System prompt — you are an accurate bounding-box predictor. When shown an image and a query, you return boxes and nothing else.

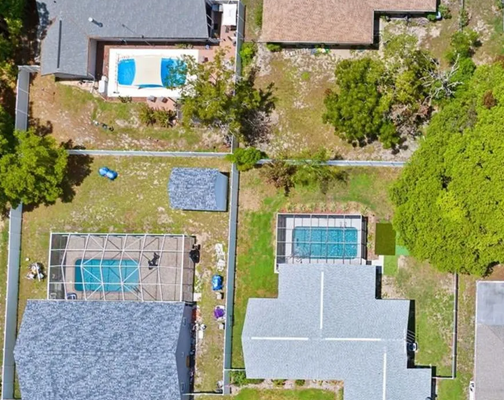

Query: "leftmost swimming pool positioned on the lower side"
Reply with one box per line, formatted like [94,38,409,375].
[67,237,195,303]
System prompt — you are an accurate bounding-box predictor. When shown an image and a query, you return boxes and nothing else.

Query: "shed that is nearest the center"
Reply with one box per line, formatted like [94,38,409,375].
[165,168,227,211]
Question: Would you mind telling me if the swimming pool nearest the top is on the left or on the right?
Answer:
left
